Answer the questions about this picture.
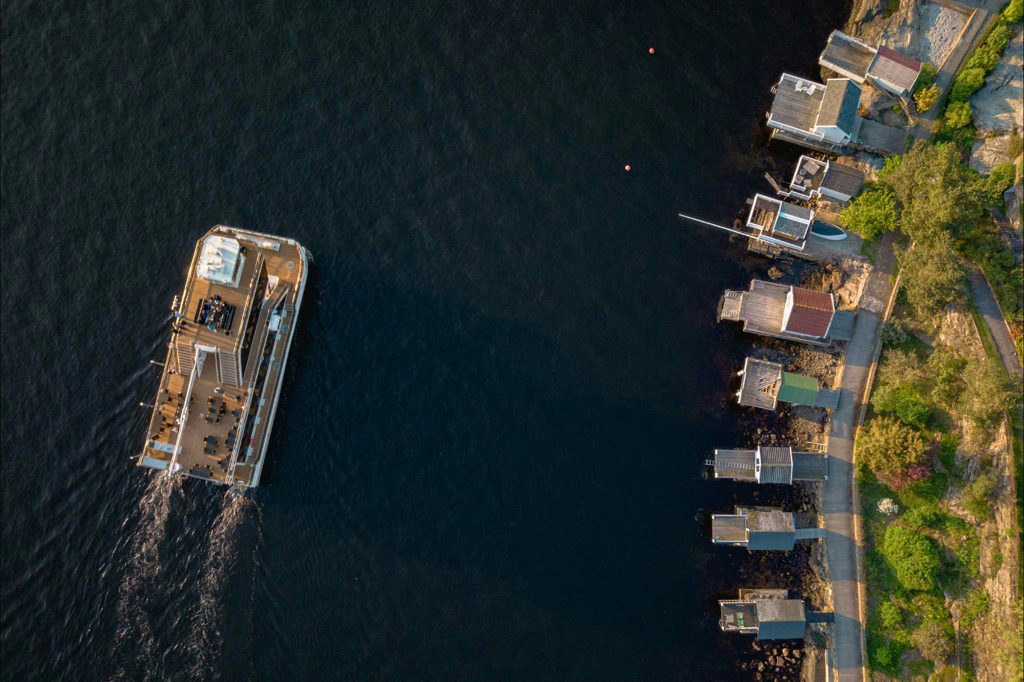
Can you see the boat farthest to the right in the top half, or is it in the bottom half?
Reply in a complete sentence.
It is in the top half that the boat farthest to the right appears.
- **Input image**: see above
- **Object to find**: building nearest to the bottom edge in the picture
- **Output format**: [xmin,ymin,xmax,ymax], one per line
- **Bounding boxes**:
[714,588,807,640]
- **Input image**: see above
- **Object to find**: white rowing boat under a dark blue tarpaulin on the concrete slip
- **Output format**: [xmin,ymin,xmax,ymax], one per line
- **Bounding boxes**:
[808,219,848,241]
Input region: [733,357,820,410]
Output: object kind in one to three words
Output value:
building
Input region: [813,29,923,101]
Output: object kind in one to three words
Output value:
building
